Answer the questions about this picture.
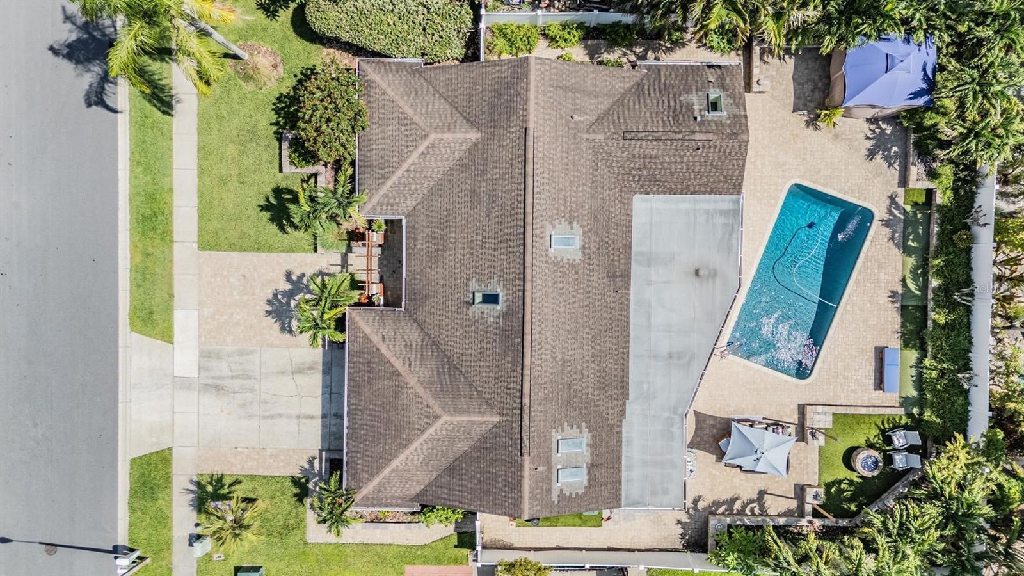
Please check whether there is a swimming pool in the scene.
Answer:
Yes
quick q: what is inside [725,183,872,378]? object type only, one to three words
swimming pool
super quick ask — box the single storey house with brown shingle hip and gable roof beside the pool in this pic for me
[342,56,750,520]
